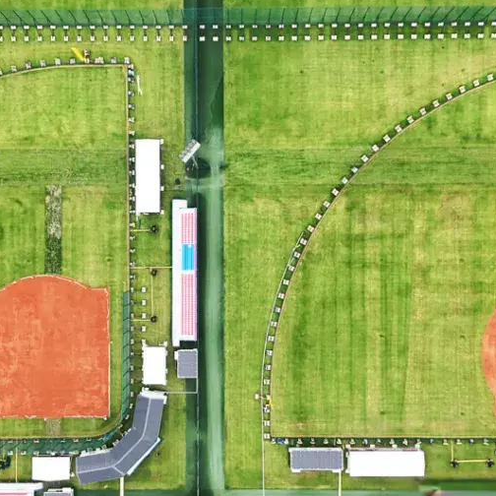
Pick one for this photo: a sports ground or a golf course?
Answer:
sports ground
